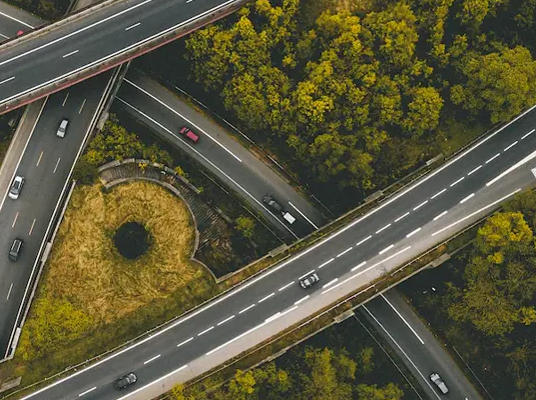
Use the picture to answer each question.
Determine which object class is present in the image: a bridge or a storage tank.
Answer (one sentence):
The one in the frame is a bridge.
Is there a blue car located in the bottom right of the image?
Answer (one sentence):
No, no blue car can be made out in the bottom right of the image.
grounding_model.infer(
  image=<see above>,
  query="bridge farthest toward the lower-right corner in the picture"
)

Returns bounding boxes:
[193,152,467,393]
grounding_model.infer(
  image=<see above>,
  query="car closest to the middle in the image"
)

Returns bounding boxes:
[261,193,283,213]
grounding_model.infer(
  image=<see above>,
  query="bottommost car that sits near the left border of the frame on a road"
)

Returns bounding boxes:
[7,237,23,262]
